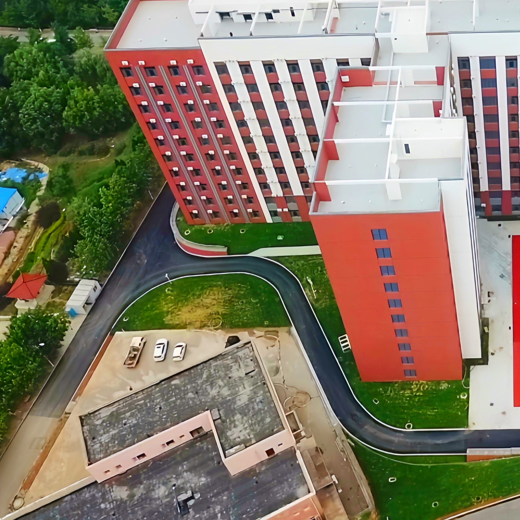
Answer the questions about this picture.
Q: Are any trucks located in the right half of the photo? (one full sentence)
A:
No, I can find no truck in the right half of the photo.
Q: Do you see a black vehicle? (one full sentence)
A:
No, the photo shows no black vehicle.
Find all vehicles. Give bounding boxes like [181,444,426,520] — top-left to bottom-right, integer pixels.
[170,338,187,363]
[151,334,168,363]
[119,332,144,370]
